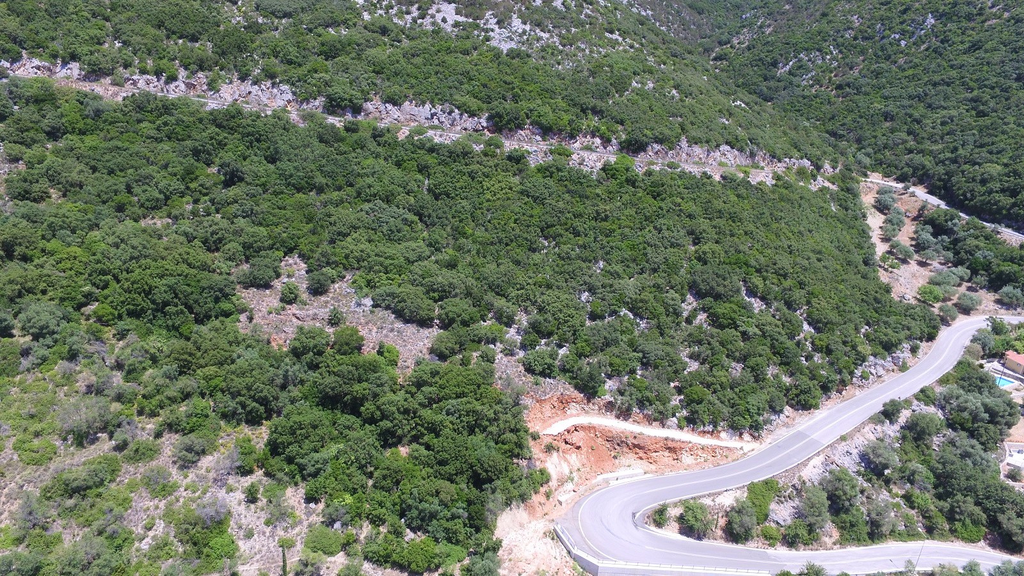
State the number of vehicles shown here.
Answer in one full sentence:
There are no vehicles in this view.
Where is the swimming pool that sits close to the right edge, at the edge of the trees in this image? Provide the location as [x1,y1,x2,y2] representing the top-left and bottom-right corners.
[993,376,1018,390]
